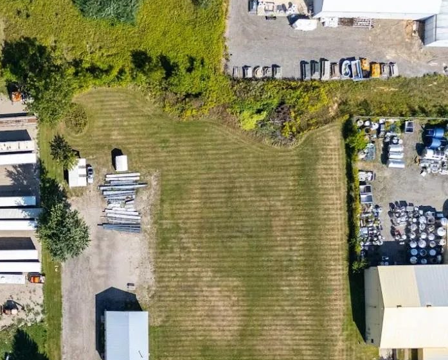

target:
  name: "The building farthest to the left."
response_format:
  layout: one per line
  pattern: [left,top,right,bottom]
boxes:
[66,158,87,188]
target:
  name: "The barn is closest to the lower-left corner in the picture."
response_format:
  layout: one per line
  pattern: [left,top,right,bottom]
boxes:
[100,310,149,360]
